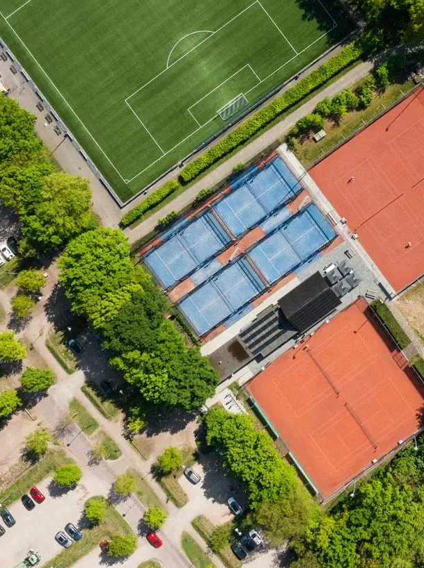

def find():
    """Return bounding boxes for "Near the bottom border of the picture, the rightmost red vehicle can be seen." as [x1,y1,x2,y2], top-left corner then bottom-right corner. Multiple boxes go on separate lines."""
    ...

[147,530,162,548]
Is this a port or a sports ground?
sports ground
